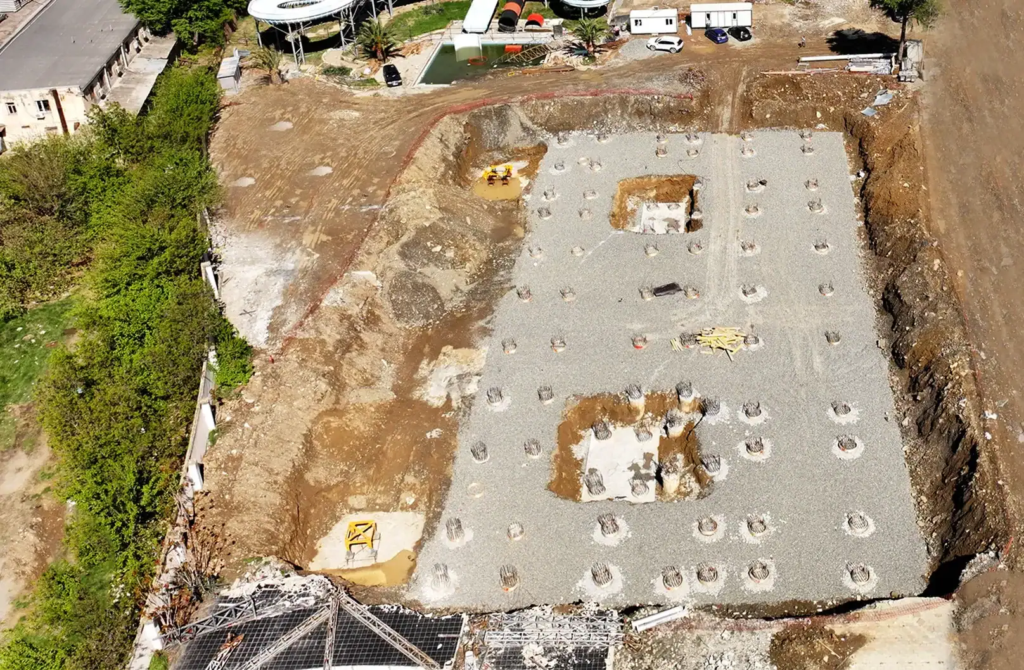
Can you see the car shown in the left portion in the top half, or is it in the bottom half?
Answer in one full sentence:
The top half of the photo is where the car shown in the left portion is.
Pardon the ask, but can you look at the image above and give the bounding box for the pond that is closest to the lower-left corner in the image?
[329,550,416,587]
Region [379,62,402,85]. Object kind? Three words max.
car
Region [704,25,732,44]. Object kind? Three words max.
car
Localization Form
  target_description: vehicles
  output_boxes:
[645,32,685,52]
[379,62,402,85]
[725,22,755,41]
[704,25,732,44]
